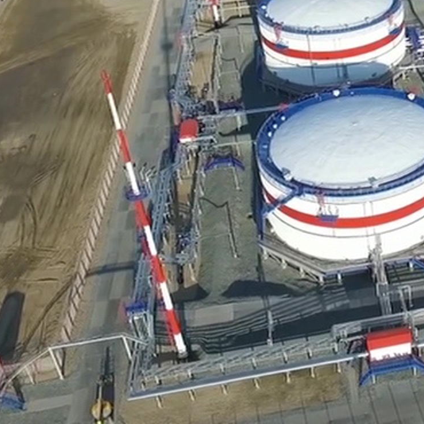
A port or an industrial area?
industrial area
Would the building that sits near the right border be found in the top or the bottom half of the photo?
bottom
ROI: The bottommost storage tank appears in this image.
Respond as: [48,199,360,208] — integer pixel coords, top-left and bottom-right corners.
[254,83,424,280]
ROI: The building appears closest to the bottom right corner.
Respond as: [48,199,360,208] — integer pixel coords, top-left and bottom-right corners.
[346,316,424,378]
